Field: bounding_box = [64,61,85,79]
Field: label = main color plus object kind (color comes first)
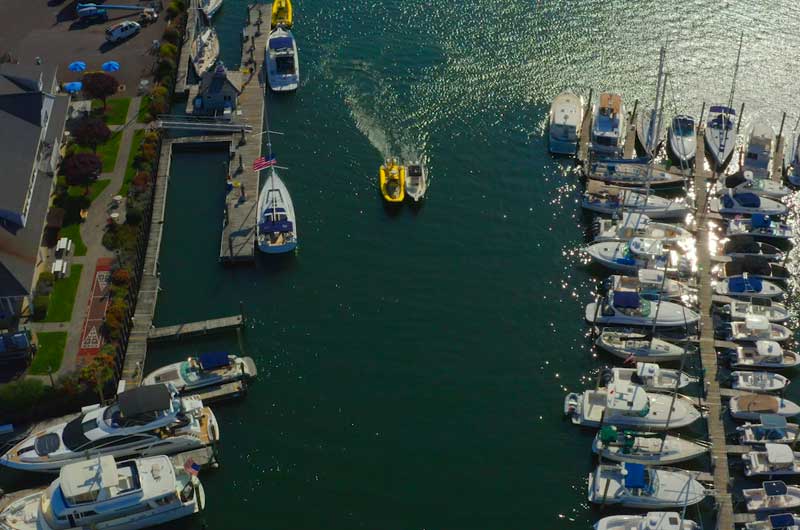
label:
blue umbrella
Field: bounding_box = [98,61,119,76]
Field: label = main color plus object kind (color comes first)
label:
blue umbrella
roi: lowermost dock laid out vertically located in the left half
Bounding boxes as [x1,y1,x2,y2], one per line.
[127,141,174,383]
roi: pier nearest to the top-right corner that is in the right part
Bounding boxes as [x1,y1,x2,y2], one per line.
[770,127,788,184]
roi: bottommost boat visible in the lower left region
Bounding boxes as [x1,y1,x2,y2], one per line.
[0,436,209,530]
